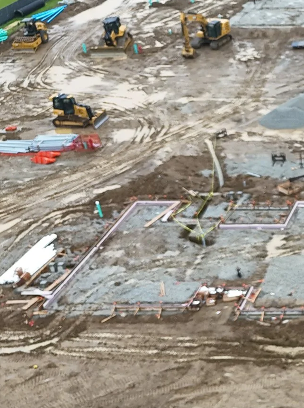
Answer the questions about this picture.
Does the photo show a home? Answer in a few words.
No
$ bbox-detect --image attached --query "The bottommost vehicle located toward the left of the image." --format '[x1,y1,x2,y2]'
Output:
[45,84,110,126]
